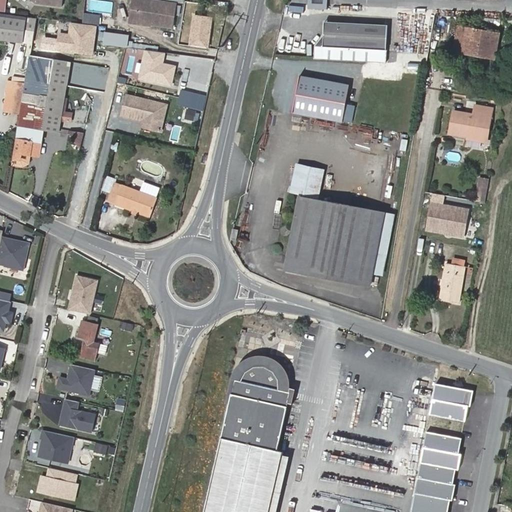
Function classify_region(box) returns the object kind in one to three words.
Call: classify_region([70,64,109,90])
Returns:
shed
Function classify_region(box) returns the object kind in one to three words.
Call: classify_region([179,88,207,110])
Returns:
building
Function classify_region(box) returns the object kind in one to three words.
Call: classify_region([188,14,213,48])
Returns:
house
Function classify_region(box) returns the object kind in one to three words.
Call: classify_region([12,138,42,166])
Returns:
house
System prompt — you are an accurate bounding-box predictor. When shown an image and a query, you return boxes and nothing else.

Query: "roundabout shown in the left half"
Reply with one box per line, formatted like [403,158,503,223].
[166,255,221,310]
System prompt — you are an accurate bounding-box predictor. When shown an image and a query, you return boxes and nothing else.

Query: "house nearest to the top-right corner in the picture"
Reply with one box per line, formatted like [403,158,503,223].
[455,26,500,60]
